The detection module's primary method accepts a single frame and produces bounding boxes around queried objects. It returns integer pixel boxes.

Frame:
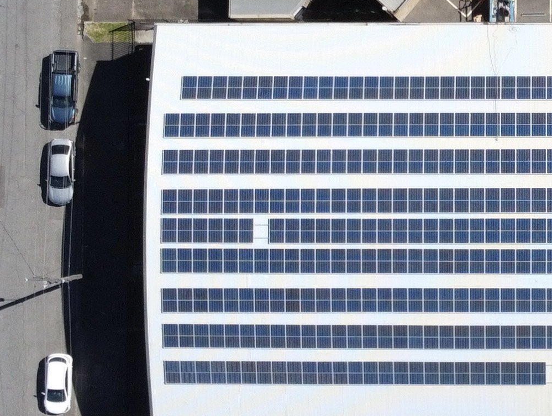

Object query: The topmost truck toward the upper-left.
[47,52,81,128]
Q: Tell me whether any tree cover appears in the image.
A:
No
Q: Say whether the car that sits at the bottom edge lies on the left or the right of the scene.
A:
left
